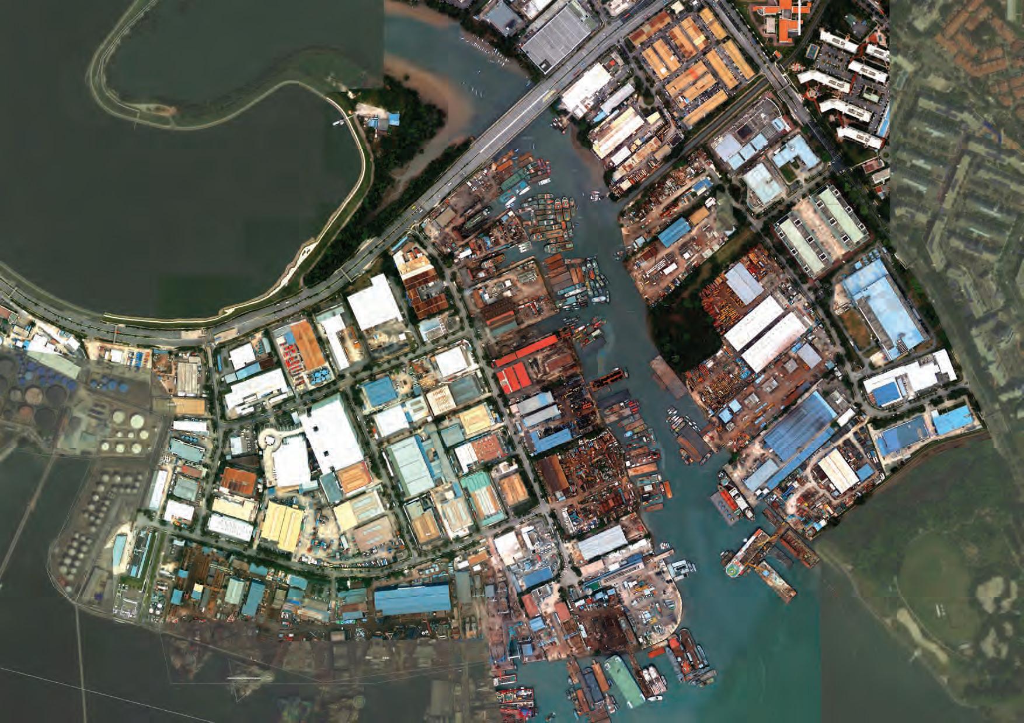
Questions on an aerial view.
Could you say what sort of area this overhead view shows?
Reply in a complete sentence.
It's a port.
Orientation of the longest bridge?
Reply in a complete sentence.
The longest bridge has been laid out at an angle relative to the frame.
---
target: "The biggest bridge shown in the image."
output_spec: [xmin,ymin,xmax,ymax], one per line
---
[468,76,559,165]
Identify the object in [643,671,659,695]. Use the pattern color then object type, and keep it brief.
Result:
white ship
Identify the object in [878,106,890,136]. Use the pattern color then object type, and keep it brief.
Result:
blue swimming pool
